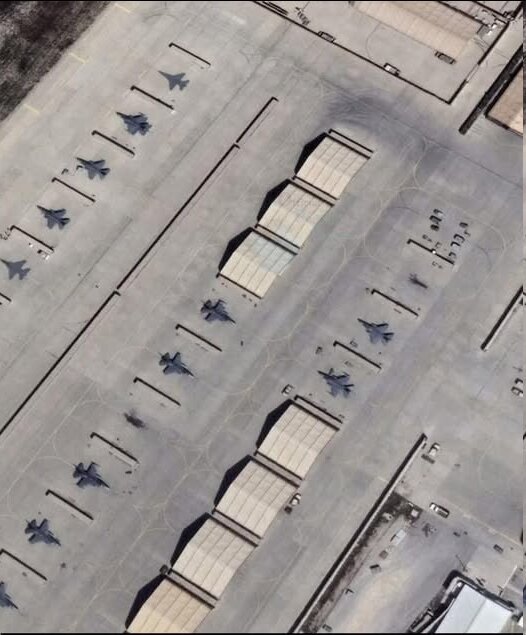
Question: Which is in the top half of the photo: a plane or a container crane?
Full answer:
The one visible in the top half of the photo is a plane.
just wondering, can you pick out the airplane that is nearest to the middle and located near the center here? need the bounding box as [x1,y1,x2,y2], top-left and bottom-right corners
[200,302,236,325]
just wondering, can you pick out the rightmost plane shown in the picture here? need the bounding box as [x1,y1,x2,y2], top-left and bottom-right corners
[358,319,393,342]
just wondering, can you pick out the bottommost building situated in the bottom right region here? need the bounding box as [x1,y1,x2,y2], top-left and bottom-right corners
[434,584,513,635]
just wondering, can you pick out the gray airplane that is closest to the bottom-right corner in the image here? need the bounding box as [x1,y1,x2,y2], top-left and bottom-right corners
[316,370,354,394]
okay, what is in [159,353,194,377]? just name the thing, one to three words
airplane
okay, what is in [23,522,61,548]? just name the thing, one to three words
airplane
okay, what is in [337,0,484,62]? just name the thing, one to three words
hangar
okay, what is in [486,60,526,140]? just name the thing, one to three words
building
